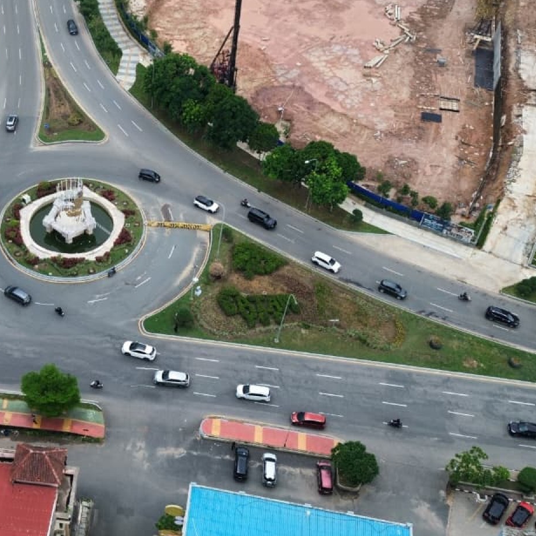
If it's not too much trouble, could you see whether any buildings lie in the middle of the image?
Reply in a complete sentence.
No, the scene shows no building in the middle of the image.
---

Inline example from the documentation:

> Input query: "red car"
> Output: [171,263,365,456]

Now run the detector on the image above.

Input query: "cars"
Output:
[1,284,35,309]
[66,19,78,35]
[245,205,279,230]
[374,277,411,302]
[234,382,272,403]
[135,165,163,185]
[478,490,511,529]
[260,451,279,491]
[231,446,252,486]
[504,497,534,531]
[289,410,328,430]
[5,113,20,133]
[121,341,158,362]
[503,419,536,441]
[153,367,191,389]
[191,193,221,215]
[309,249,342,275]
[483,303,522,330]
[315,459,333,496]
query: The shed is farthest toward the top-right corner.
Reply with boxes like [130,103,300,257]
[473,42,497,97]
